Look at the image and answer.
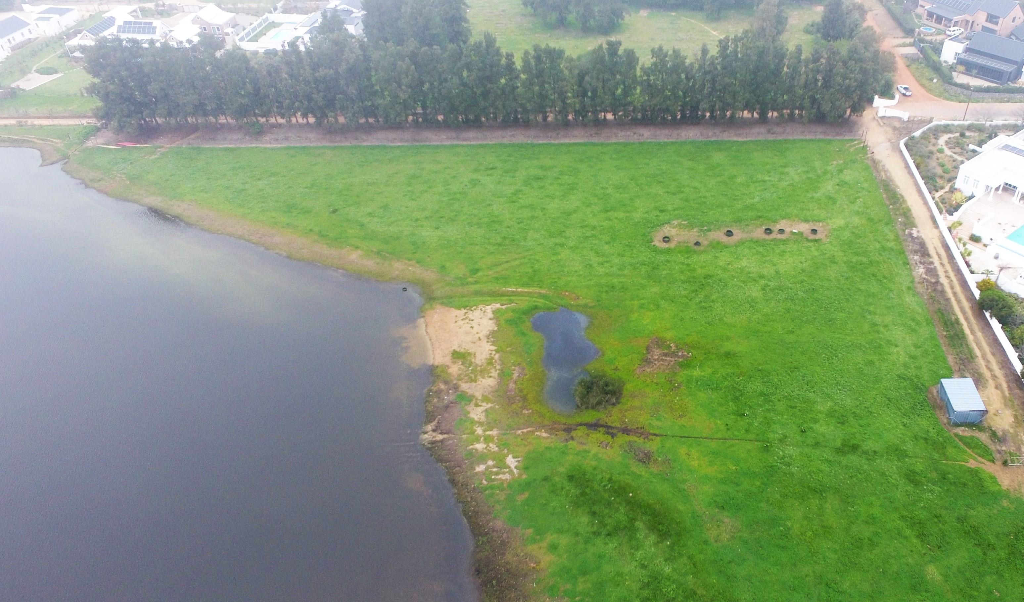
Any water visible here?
Yes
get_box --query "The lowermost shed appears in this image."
[934,375,989,430]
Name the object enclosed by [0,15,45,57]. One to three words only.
house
